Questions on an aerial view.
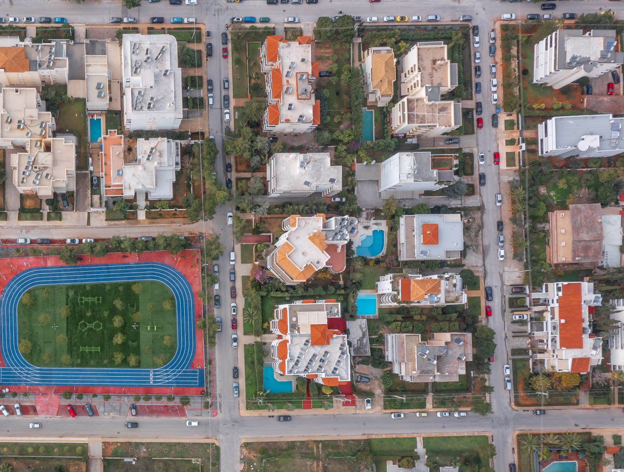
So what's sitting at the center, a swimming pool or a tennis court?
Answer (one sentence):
The feature located at the center is a swimming pool.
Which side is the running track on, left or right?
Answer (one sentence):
The running track sits on the left side.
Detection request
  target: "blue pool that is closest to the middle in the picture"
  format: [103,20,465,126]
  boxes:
[355,228,386,258]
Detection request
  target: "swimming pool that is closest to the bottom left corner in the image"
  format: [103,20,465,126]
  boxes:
[262,366,294,394]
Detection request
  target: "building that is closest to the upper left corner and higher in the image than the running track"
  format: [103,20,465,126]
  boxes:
[0,37,69,82]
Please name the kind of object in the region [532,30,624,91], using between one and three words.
building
